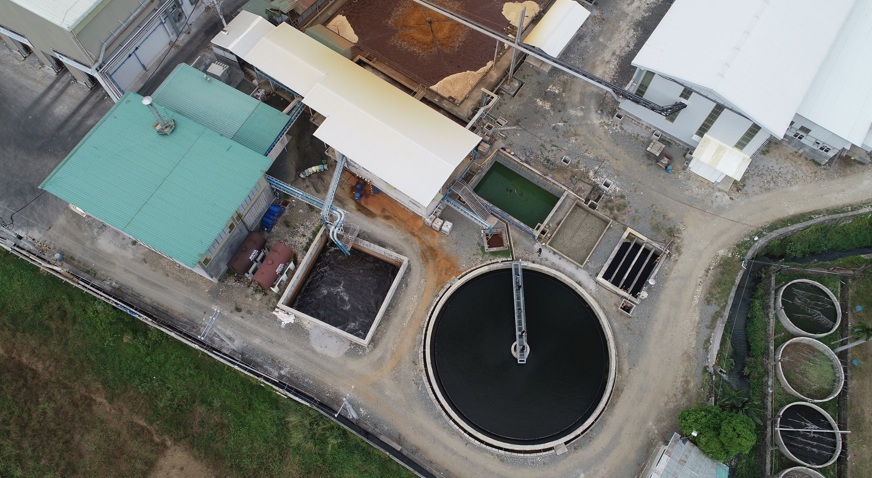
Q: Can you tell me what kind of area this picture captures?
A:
industrial area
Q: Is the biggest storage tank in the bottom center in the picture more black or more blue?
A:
black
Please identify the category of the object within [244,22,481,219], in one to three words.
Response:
house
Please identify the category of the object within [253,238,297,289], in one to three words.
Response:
storage tank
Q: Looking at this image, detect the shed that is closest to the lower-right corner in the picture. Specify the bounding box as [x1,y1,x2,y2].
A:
[648,430,729,478]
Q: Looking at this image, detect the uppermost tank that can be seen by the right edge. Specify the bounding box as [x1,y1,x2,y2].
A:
[774,279,842,341]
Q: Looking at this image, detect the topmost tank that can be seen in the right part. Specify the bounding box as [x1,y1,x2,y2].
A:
[596,229,671,304]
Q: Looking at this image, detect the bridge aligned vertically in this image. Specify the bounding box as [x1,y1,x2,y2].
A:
[511,256,529,362]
